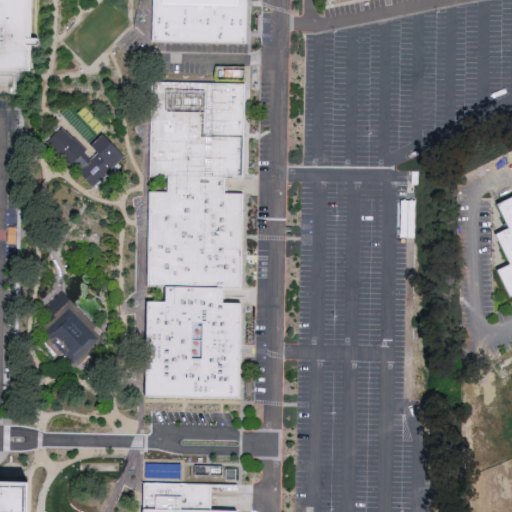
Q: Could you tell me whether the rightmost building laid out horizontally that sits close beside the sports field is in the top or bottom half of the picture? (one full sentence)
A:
It is in the top half that the rightmost building laid out horizontally that sits close beside the sports field appears.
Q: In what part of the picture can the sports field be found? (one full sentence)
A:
The sports field is located in the top left region of the scene.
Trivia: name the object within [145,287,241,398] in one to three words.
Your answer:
building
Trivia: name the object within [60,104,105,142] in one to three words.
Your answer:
sports court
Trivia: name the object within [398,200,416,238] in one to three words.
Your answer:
shed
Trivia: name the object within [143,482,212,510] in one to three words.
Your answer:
building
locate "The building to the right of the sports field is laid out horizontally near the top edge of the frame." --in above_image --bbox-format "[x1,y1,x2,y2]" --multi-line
[152,0,248,43]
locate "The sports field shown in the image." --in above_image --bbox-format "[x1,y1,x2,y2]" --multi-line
[64,0,128,64]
